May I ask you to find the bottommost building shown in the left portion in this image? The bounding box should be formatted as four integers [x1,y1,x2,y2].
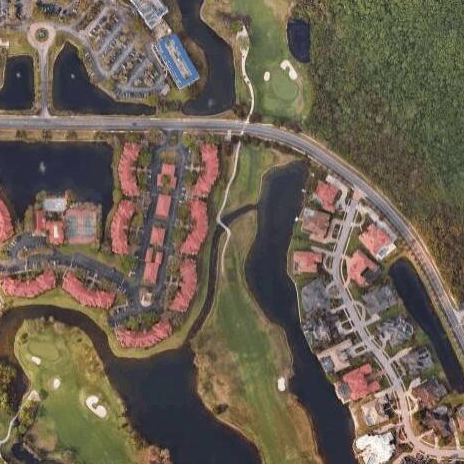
[111,315,175,348]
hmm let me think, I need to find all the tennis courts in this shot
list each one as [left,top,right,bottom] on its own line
[81,209,96,243]
[67,209,82,243]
